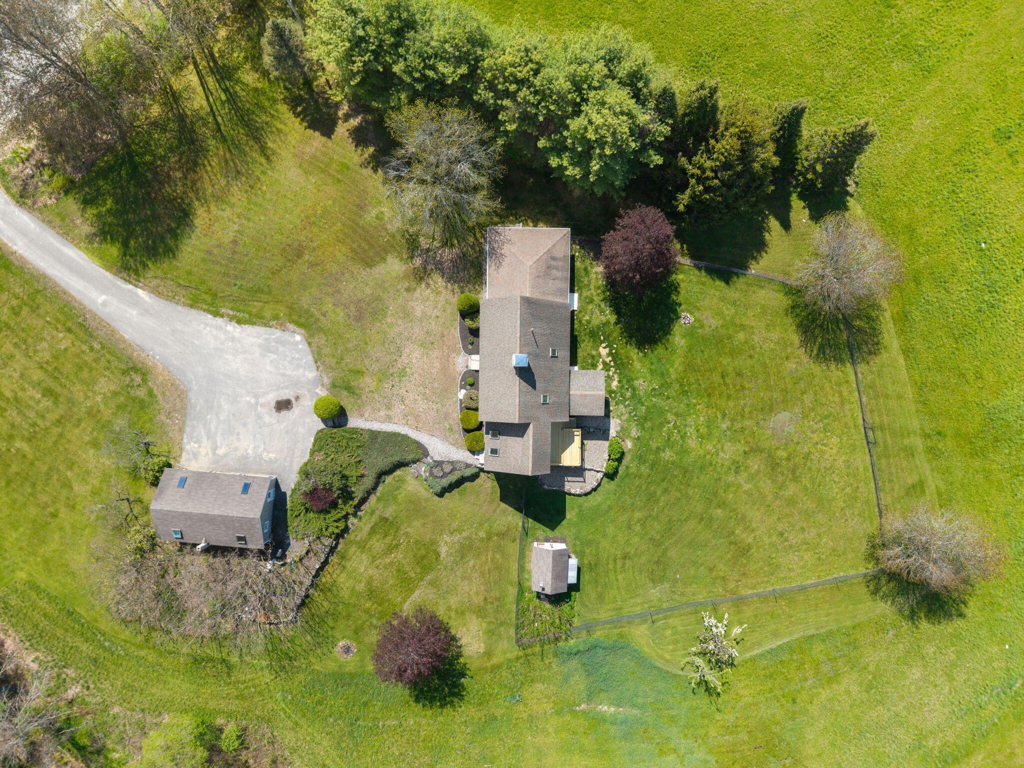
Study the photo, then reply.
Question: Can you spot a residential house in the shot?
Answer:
Yes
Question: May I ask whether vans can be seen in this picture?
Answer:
No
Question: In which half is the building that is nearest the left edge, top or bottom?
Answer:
bottom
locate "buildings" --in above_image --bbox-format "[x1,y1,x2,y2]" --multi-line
[533,538,570,598]
[470,227,606,475]
[150,467,278,553]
